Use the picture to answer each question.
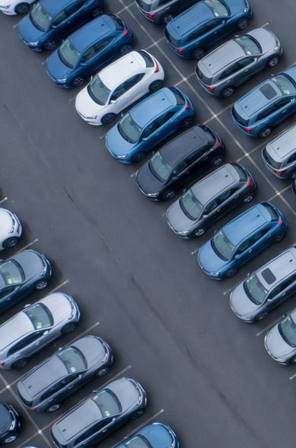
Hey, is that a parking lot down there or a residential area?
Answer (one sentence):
This looks like a parking lot.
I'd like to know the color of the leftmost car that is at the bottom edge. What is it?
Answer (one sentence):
The color of the leftmost car that is at the bottom edge is blue.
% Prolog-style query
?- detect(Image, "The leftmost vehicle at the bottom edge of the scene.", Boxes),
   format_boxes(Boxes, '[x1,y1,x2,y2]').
[0,400,27,448]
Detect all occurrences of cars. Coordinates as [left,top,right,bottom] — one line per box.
[199,202,289,279]
[0,292,84,374]
[12,334,116,417]
[76,50,166,124]
[193,29,284,100]
[18,0,107,50]
[133,0,201,26]
[0,207,25,254]
[0,250,56,317]
[107,88,196,162]
[46,376,151,448]
[46,14,137,87]
[229,245,296,322]
[264,308,296,364]
[259,125,296,182]
[166,163,258,239]
[228,68,296,139]
[115,422,183,448]
[163,0,253,62]
[0,400,27,448]
[137,125,227,200]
